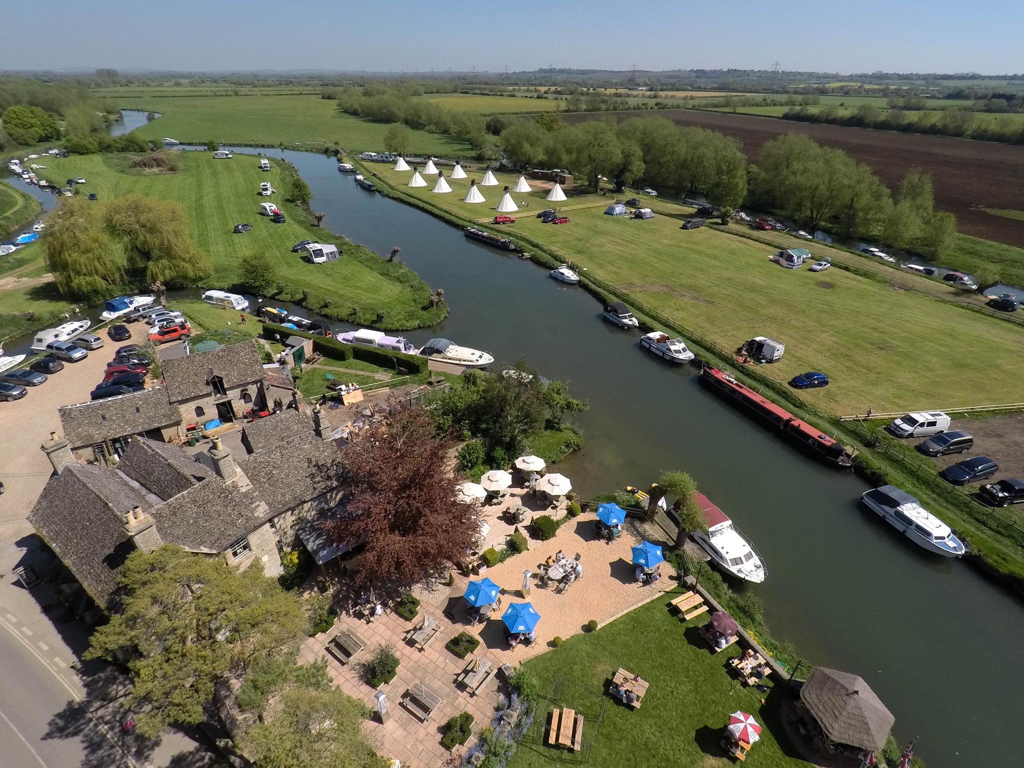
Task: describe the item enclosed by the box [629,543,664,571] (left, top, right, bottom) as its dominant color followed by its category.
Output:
blue umbrella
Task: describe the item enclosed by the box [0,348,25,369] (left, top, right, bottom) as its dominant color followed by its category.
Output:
white boat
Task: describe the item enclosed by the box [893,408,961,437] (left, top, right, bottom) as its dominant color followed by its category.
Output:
white van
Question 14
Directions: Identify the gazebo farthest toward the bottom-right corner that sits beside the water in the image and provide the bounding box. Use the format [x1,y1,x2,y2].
[791,666,893,768]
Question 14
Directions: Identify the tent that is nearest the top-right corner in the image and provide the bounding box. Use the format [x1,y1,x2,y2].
[774,247,814,267]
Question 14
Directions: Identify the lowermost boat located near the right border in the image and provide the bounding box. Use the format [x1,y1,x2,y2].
[855,483,976,559]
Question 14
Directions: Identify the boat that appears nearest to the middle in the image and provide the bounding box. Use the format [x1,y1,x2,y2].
[501,367,535,380]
